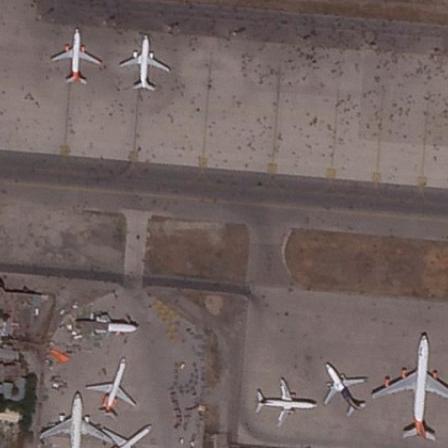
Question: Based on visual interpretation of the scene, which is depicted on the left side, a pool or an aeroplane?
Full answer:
What appears on the left side is an aeroplane.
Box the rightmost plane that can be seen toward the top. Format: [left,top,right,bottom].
[120,36,169,90]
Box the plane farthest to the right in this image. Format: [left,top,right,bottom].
[373,333,448,439]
